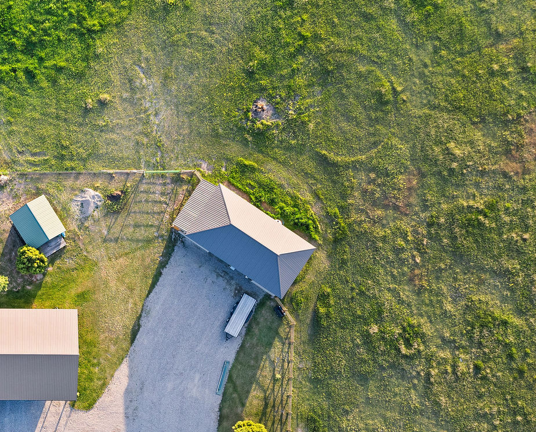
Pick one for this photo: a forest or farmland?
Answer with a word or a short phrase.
farmland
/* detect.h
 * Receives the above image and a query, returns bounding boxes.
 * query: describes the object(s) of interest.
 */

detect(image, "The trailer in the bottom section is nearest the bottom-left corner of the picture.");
[224,293,256,343]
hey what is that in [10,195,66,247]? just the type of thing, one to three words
shed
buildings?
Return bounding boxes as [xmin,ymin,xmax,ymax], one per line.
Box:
[0,307,78,401]
[173,180,317,300]
[10,195,66,247]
